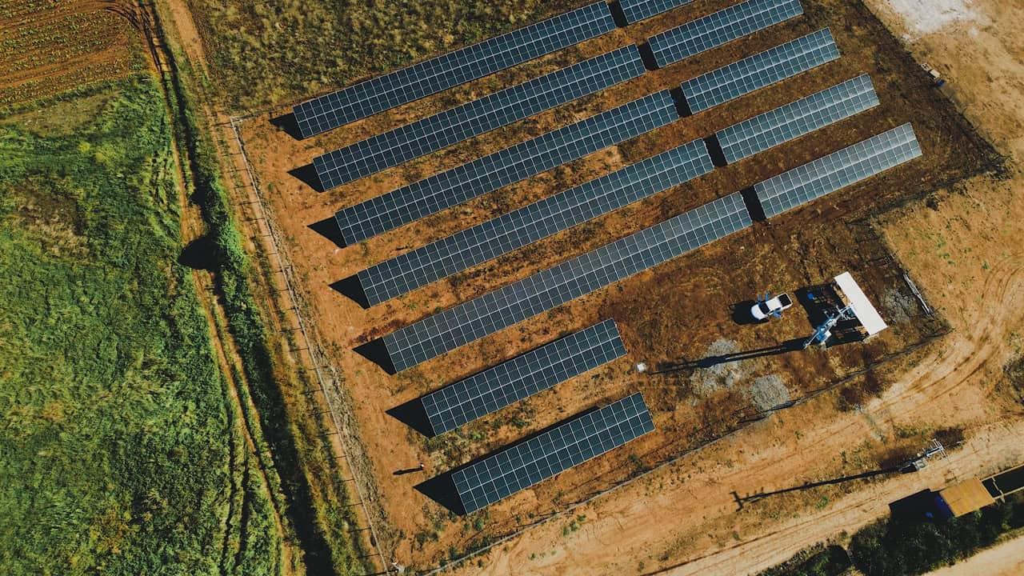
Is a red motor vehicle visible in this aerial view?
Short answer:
No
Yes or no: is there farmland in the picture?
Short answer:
Yes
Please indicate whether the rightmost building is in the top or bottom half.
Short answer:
bottom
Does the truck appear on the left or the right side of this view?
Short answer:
right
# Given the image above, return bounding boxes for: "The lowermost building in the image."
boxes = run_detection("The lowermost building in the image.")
[933,463,1024,519]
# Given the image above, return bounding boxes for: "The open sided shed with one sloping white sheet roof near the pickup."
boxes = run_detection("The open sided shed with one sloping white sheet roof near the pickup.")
[824,272,888,340]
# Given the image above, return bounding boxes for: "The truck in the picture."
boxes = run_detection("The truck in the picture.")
[748,293,795,325]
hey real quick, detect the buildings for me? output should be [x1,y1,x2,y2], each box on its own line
[933,463,1024,519]
[824,272,888,340]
